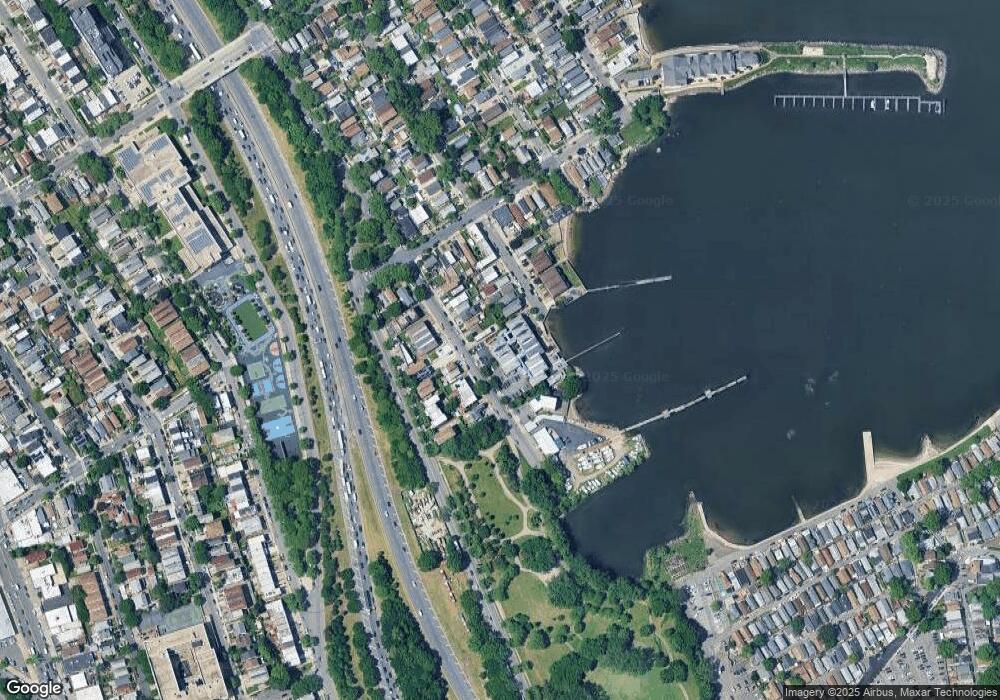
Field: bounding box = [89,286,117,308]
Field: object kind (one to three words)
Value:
house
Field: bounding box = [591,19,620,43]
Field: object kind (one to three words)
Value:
house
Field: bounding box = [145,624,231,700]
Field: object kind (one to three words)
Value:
building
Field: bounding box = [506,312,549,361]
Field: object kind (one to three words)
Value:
shed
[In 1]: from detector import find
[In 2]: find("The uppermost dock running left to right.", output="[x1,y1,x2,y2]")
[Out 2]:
[774,96,944,115]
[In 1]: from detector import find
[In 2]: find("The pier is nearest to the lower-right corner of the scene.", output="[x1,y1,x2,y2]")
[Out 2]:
[863,431,880,486]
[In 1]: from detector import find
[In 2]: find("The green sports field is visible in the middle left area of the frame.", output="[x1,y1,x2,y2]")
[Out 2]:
[234,300,268,340]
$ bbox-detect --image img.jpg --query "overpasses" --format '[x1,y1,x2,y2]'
[175,33,259,94]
